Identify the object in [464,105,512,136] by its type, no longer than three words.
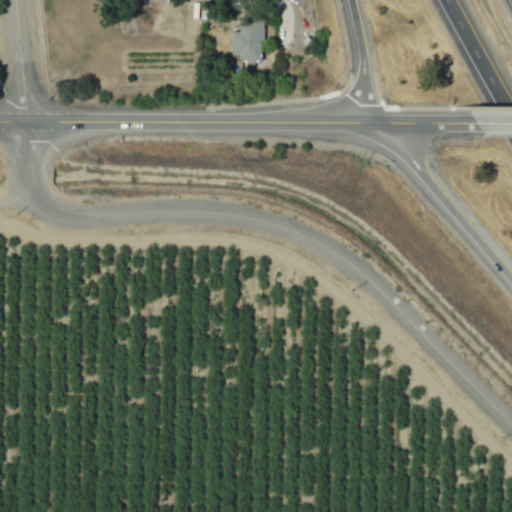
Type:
bridge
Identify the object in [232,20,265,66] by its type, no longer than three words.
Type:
house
